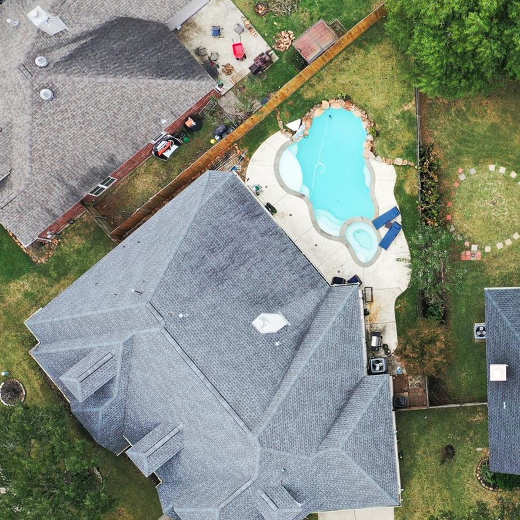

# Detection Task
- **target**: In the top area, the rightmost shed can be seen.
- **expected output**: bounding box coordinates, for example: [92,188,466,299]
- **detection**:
[292,19,340,64]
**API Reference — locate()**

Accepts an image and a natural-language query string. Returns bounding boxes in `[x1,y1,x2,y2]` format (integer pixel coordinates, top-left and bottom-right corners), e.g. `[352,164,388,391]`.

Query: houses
[0,0,225,248]
[484,286,520,475]
[22,169,402,520]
